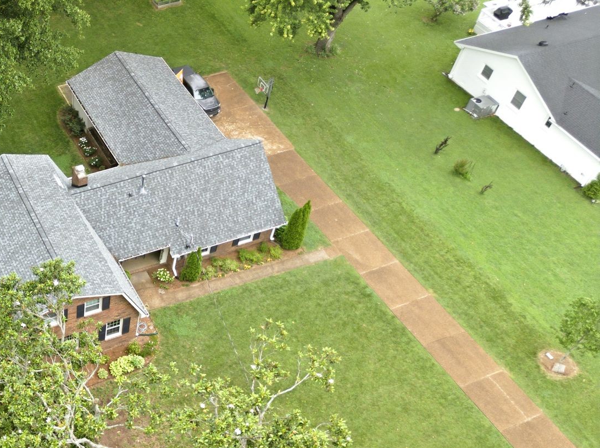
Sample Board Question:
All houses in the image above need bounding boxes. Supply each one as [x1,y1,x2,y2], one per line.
[0,52,288,369]
[449,5,600,186]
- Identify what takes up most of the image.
grass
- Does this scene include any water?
No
